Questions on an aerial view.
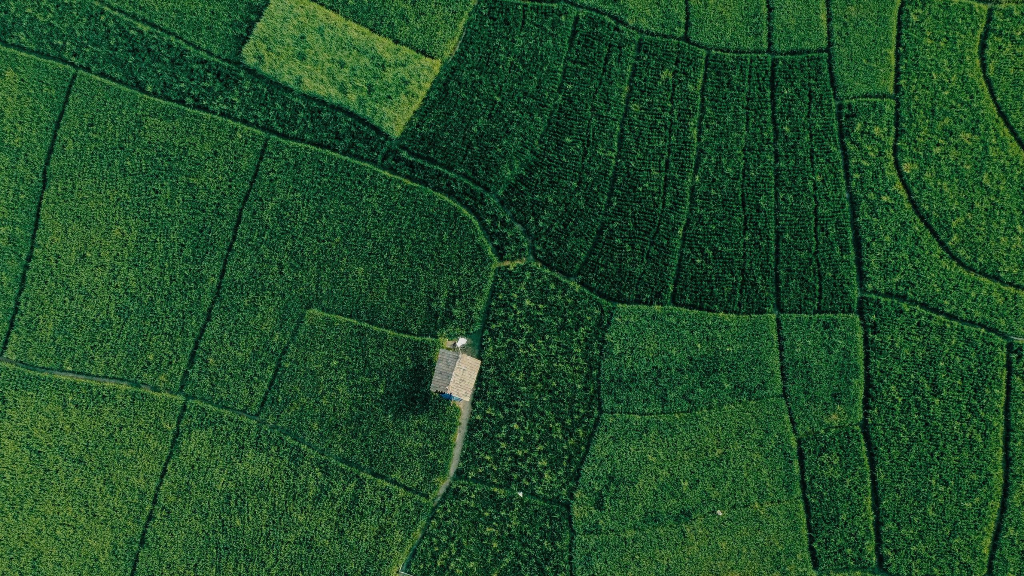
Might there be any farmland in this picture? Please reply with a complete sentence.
Yes, there's farmland in this view.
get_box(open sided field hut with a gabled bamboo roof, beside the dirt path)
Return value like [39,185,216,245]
[430,348,482,401]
